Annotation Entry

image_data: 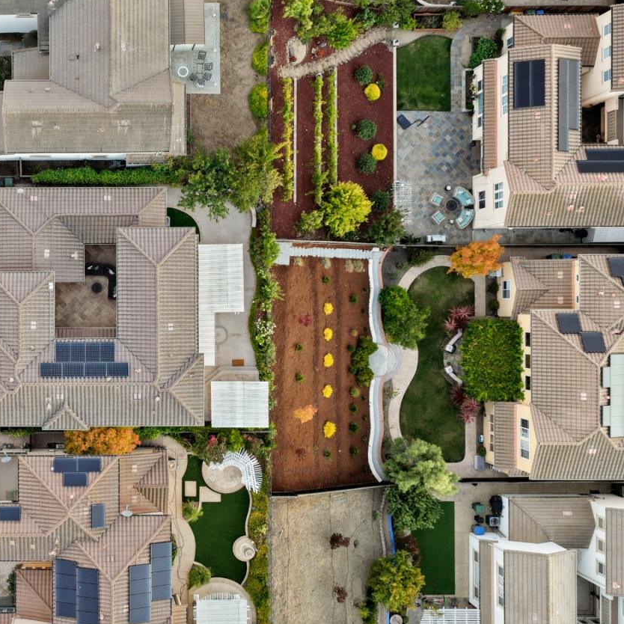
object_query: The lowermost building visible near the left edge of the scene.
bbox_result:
[0,448,188,624]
